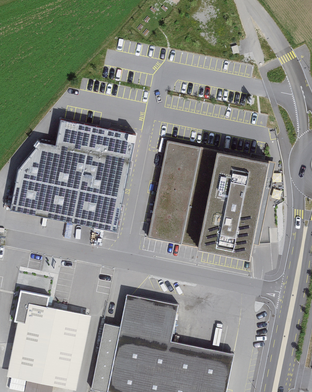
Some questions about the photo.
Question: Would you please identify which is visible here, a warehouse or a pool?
warehouse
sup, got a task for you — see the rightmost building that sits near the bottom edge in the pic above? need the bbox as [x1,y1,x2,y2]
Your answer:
[108,295,234,392]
